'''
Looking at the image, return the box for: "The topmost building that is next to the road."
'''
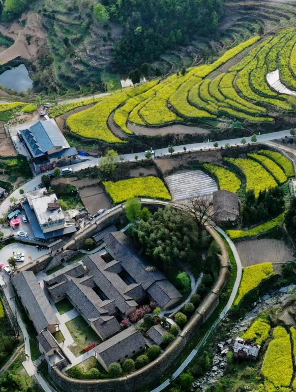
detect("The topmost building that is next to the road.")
[1,124,79,173]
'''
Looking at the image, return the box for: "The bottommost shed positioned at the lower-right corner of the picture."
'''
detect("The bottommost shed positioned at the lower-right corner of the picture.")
[235,337,260,364]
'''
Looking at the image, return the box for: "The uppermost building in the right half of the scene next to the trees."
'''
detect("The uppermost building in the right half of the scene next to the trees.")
[212,184,242,223]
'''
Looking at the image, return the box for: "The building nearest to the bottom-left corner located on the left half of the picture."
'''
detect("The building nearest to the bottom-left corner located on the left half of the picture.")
[24,324,68,371]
